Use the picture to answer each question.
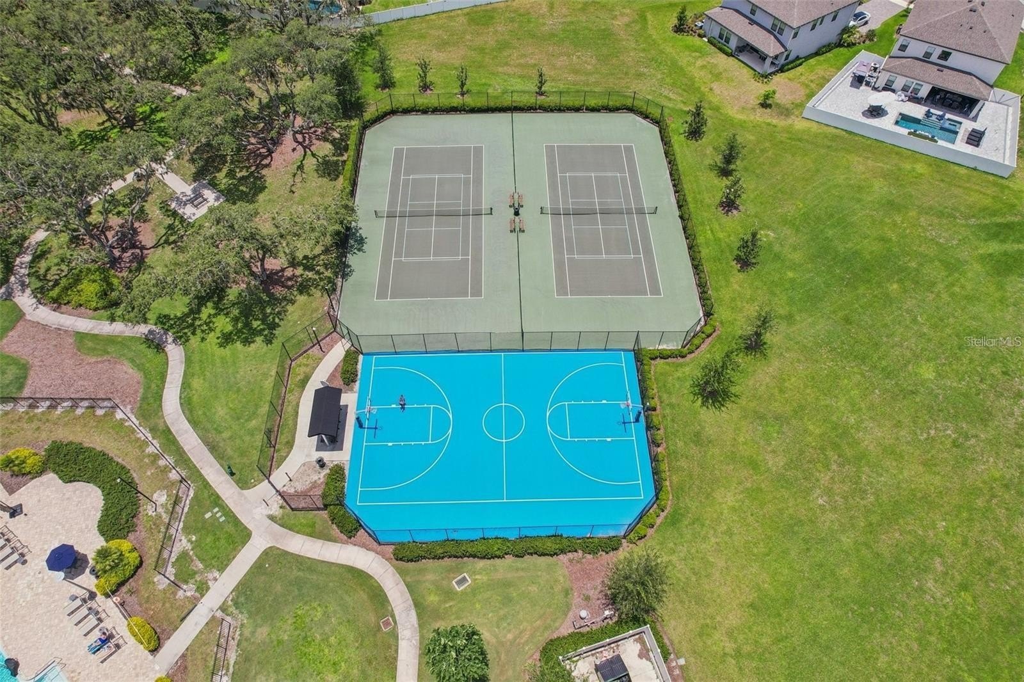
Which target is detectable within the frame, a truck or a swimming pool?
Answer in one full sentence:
It is a swimming pool that can be seen here.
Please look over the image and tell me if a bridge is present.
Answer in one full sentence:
No, the frame has no bridge in it.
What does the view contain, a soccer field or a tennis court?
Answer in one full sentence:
The image shows a tennis court.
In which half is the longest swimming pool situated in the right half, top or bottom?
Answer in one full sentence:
It is in the top half that the longest swimming pool situated in the right half appears.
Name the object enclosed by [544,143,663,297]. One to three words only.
tennis court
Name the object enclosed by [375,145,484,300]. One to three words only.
tennis court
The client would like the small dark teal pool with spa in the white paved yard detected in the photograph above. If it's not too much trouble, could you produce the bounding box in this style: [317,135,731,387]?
[895,114,960,143]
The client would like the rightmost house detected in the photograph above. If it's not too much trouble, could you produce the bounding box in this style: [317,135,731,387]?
[876,0,1024,117]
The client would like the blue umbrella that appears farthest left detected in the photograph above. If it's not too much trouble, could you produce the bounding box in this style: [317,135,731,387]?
[46,542,82,575]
